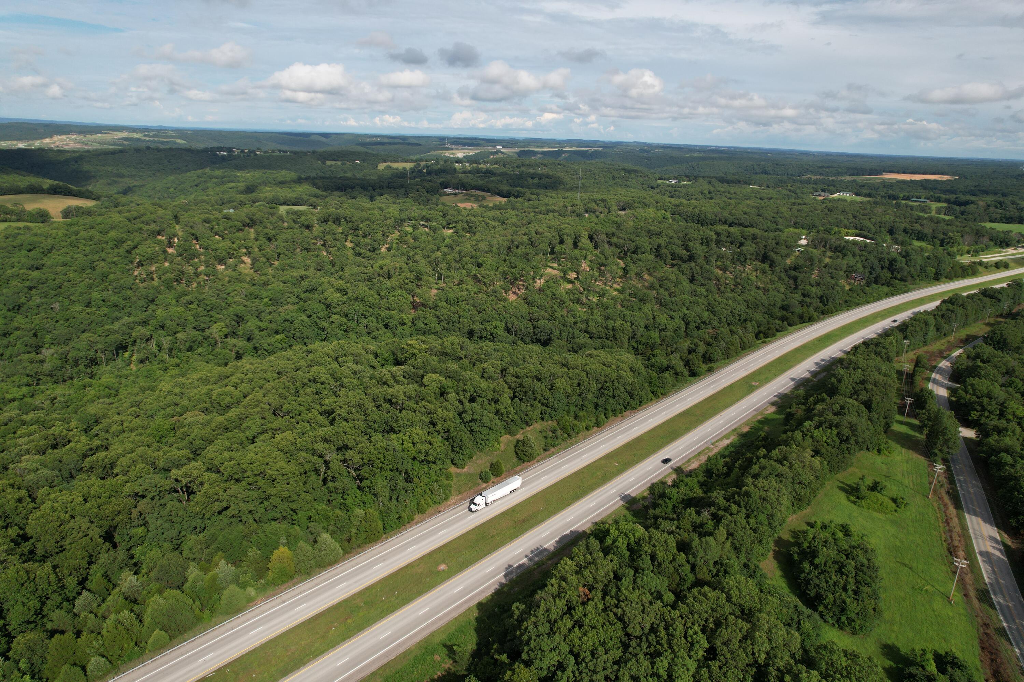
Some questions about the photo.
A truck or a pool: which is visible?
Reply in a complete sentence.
The image shows a truck.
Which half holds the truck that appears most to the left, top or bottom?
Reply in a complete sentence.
The bottom half of the photo is where the truck that appears most to the left is.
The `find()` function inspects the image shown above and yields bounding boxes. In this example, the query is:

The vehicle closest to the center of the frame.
[469,475,521,510]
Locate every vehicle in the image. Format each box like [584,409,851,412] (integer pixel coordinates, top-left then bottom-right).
[663,457,673,463]
[469,475,521,510]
